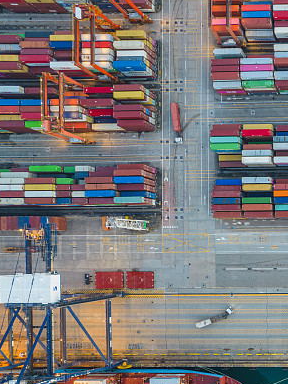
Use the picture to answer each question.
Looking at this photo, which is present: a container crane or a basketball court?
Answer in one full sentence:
Visible in the photo is a container crane.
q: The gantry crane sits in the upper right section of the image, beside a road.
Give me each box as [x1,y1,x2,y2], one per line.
[208,0,246,46]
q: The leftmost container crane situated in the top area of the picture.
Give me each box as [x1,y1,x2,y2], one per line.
[39,70,89,140]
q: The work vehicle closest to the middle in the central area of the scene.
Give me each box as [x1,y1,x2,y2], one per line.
[99,216,146,229]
